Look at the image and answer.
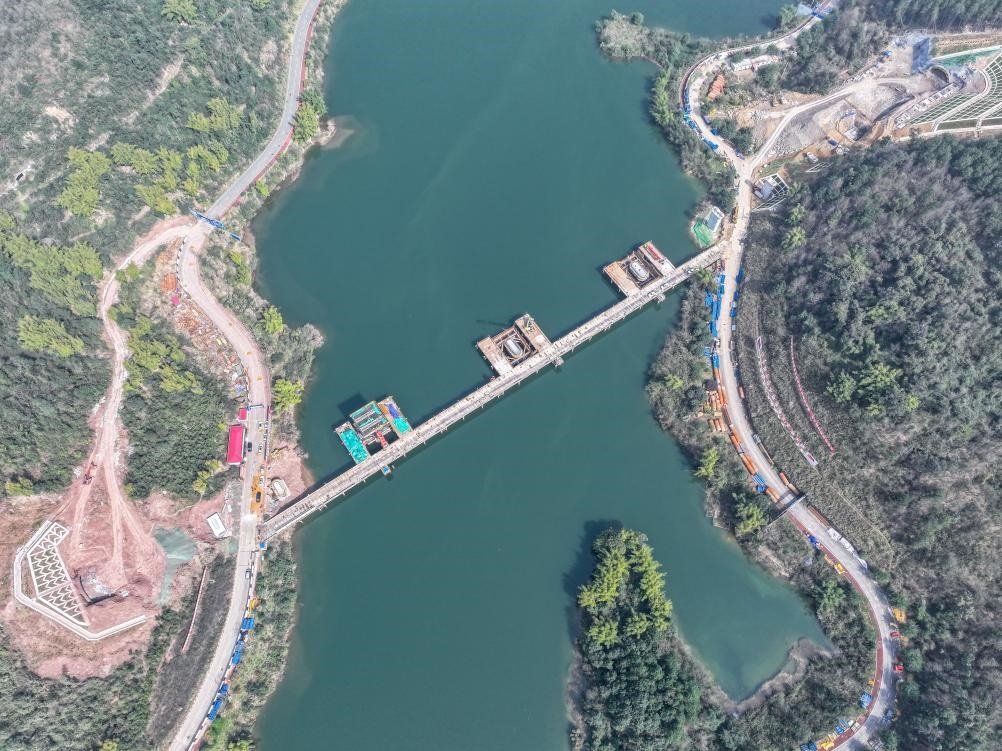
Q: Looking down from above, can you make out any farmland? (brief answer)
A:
No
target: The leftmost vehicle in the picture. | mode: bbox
[83,463,97,487]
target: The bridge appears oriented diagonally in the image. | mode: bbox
[253,242,730,542]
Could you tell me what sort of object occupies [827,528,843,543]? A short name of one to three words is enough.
vehicle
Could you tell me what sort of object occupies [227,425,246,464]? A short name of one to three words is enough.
building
